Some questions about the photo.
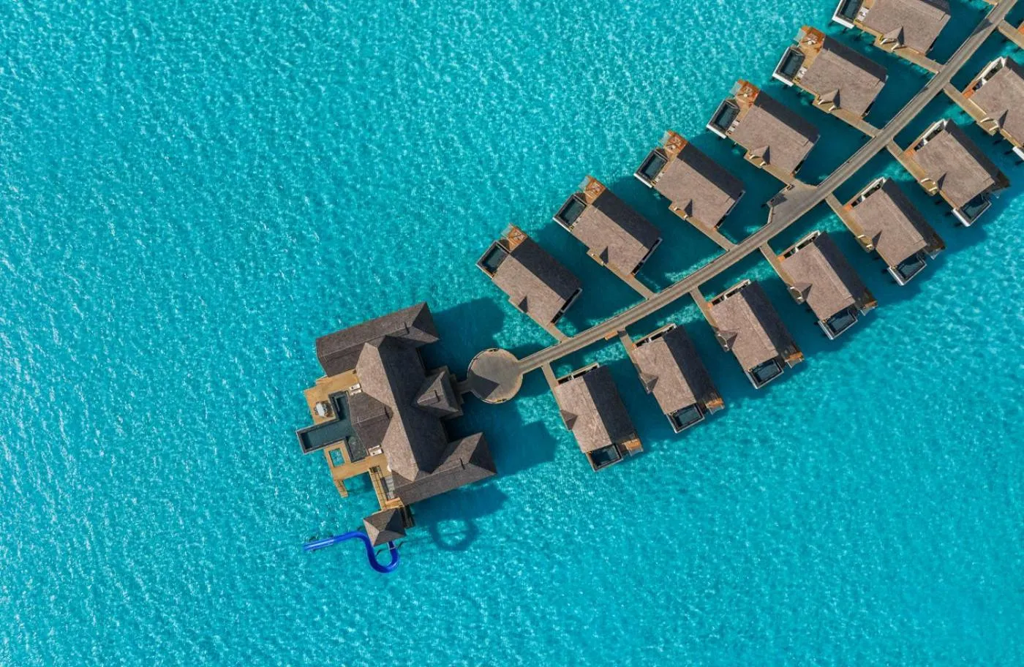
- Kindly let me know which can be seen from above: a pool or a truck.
pool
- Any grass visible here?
No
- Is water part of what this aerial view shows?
Yes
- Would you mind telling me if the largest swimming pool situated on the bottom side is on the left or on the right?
left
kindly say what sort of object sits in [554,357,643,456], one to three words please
house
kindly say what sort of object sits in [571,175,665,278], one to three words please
house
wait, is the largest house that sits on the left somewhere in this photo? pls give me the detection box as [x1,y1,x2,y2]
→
[305,302,496,511]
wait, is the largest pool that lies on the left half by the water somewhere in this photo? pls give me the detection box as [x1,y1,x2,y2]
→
[296,387,373,463]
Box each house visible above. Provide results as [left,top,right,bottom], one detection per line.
[571,175,665,278]
[842,174,944,272]
[726,79,822,178]
[960,59,1024,157]
[847,0,954,58]
[652,130,747,232]
[787,27,890,122]
[493,222,586,326]
[554,357,643,456]
[903,116,1009,226]
[305,302,496,511]
[630,319,722,416]
[706,275,801,370]
[775,227,875,321]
